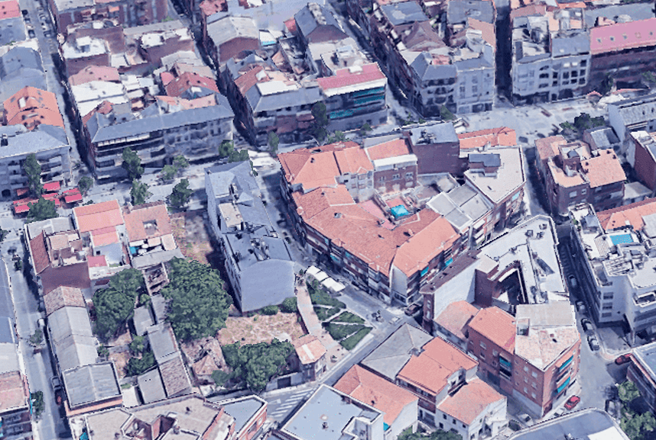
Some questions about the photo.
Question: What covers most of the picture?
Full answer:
For the most part, this view shows buildings.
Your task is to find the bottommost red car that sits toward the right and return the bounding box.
[565,397,580,410]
